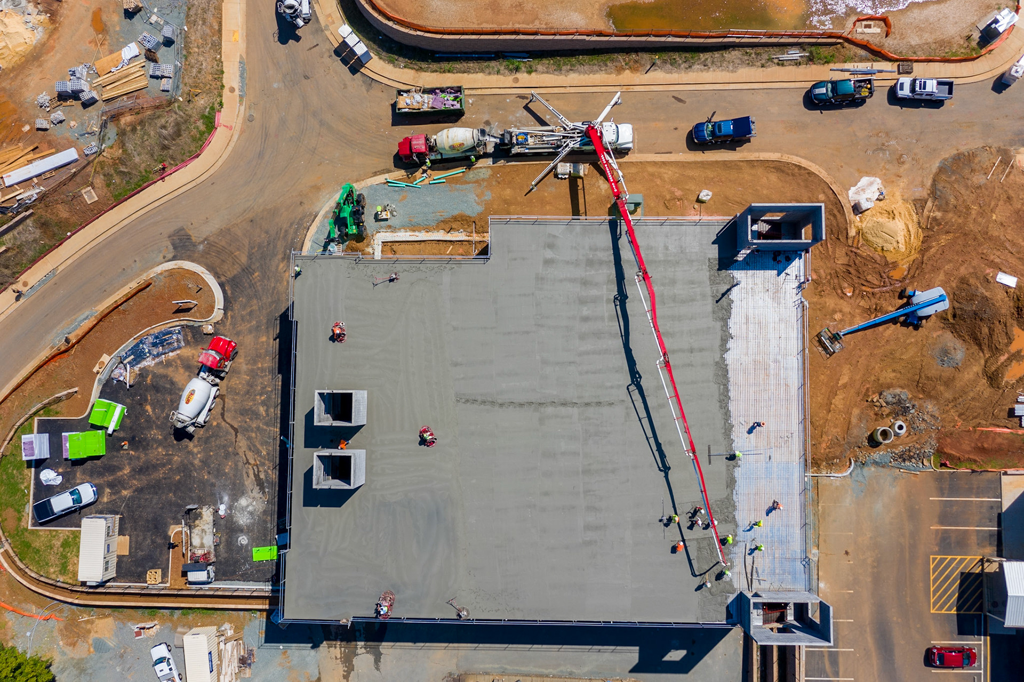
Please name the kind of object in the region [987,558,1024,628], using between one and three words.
building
